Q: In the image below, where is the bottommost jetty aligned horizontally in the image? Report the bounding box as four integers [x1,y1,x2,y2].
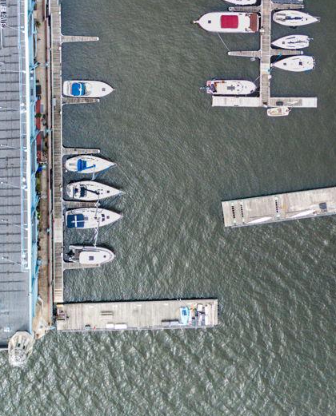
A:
[56,297,218,332]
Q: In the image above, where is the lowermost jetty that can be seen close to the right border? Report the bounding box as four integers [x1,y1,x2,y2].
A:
[221,186,336,228]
